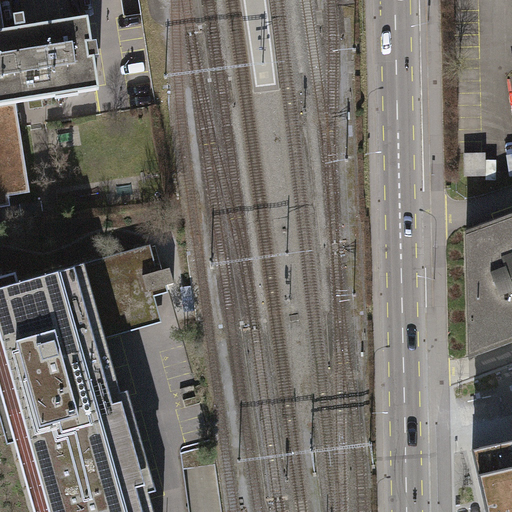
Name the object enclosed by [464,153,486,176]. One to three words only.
shed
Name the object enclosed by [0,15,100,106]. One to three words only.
building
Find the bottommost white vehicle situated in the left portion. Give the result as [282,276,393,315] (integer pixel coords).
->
[120,63,146,75]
